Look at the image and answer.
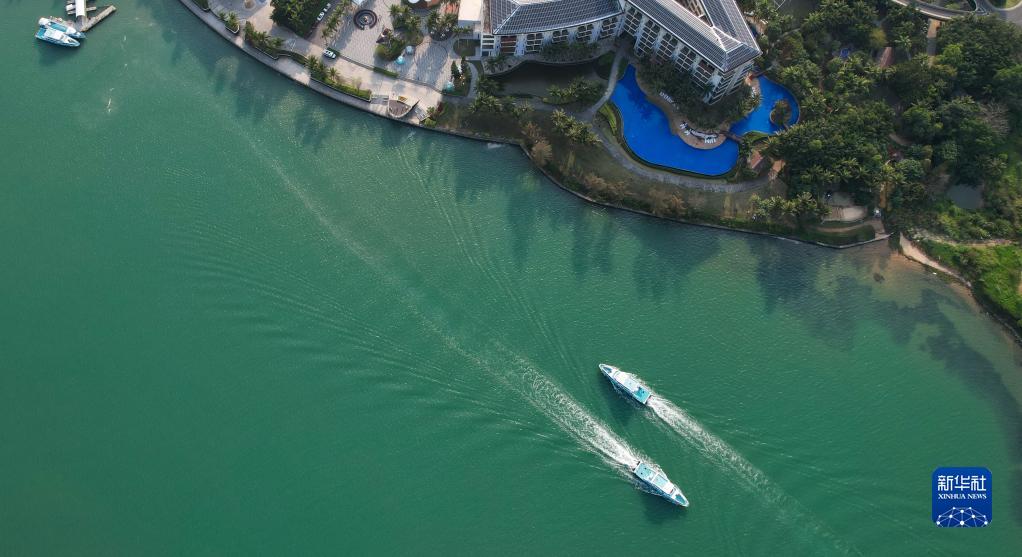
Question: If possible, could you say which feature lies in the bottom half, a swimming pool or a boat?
boat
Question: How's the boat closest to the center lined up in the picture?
diagonally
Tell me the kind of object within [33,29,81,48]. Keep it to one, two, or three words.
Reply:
boat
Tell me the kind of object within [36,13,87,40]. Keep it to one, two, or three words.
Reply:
boat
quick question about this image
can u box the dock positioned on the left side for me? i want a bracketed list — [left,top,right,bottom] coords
[53,0,119,35]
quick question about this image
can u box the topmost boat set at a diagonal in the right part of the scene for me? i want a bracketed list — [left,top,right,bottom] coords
[600,364,651,407]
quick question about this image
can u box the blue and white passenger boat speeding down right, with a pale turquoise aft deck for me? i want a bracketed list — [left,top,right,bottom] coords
[633,459,689,506]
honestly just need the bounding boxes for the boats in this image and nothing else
[633,459,689,506]
[33,29,81,48]
[63,3,76,11]
[600,364,651,407]
[36,13,87,40]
